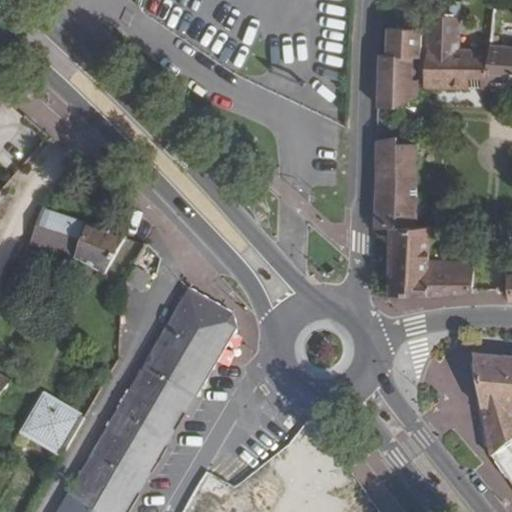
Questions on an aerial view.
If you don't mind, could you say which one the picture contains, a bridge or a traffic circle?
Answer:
traffic circle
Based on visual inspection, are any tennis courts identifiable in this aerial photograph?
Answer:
No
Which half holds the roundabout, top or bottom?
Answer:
bottom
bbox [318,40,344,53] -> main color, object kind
white vehicle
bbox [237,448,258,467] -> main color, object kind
white car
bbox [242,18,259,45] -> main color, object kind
white vehicle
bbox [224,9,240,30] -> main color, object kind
white car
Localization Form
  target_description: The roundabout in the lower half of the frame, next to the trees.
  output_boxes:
[294,319,354,379]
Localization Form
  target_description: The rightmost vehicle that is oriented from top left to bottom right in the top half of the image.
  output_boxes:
[312,80,336,102]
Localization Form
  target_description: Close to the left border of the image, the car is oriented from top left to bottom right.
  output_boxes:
[2,140,22,158]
